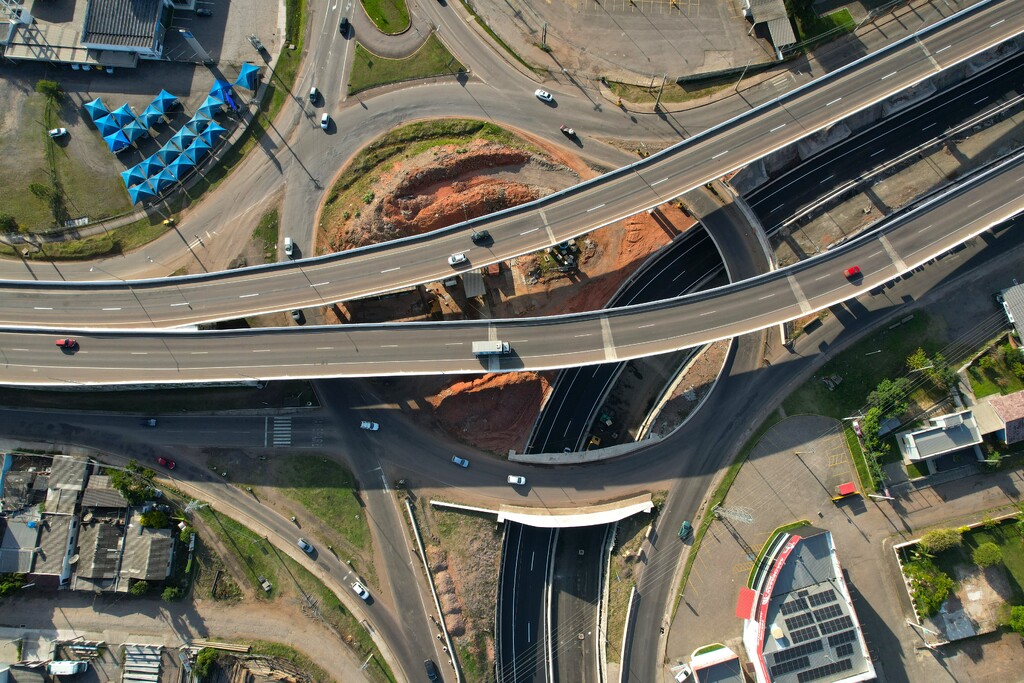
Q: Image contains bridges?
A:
Yes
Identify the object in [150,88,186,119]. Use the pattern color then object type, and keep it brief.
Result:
blue tent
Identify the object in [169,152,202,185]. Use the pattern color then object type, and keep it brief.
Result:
blue tent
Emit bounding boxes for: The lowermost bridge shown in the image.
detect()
[496,433,664,527]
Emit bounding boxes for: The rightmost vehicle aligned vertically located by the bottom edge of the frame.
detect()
[425,660,437,682]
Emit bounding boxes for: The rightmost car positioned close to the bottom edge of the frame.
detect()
[675,662,692,680]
